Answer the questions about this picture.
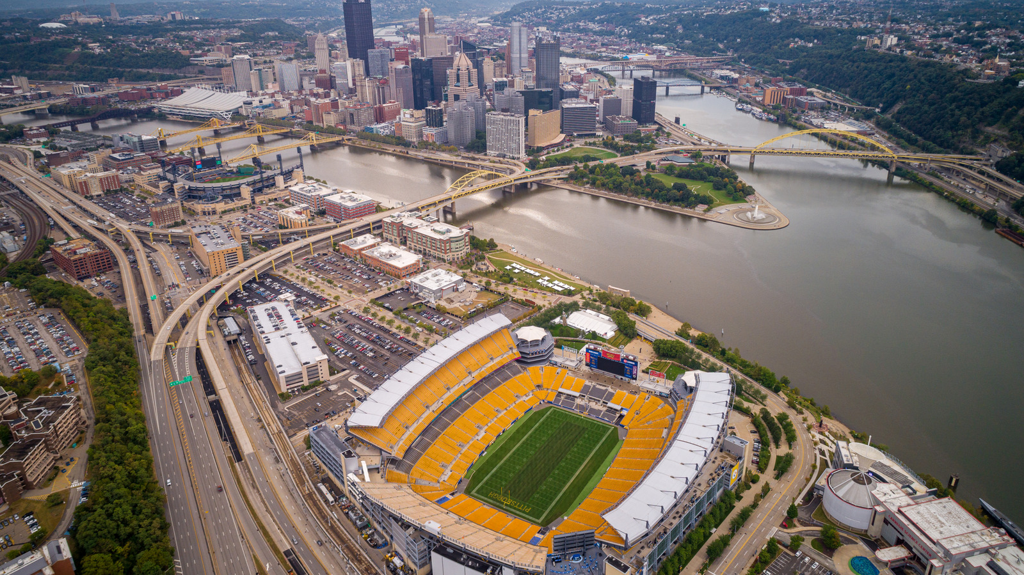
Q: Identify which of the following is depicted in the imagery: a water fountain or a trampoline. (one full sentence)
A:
There is a water fountain in the scene.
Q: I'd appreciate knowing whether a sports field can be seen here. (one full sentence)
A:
Yes, this view includes a sports field.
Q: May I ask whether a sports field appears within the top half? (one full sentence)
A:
No, within the top half there is no sports field.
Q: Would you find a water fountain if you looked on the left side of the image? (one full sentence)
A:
No, no water fountain appears on the left side of the image.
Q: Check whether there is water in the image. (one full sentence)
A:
Yes, some water is visible.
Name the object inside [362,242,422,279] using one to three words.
building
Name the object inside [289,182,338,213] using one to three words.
building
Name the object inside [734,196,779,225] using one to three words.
fountain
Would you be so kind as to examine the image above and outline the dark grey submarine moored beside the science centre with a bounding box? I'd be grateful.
[981,500,1024,543]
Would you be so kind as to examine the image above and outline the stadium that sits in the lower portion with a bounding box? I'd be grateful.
[337,306,753,575]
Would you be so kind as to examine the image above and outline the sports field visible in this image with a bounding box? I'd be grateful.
[467,406,621,525]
